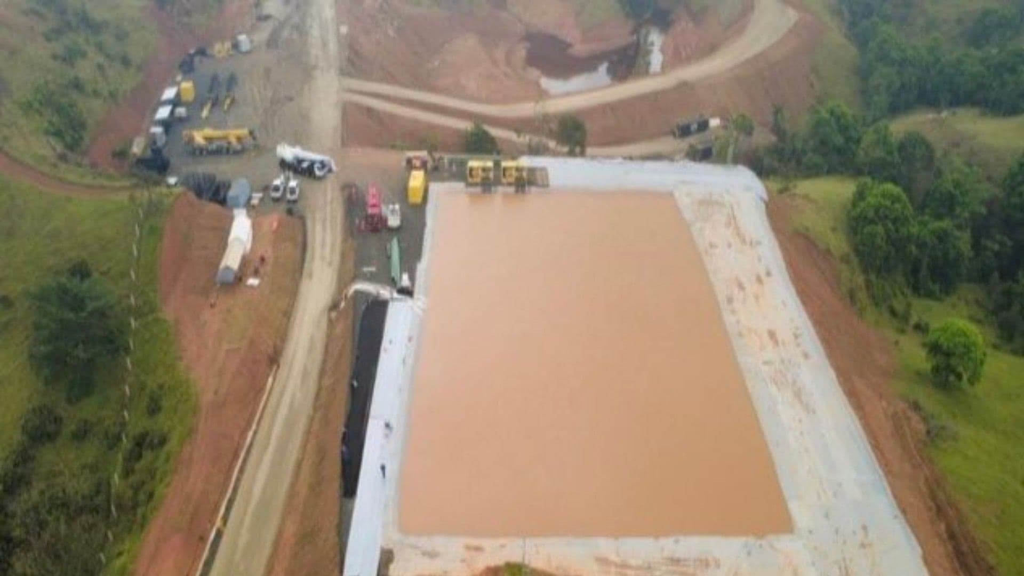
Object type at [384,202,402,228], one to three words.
car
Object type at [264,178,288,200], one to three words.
truck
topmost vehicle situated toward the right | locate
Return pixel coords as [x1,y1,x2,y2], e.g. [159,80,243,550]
[675,118,717,139]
